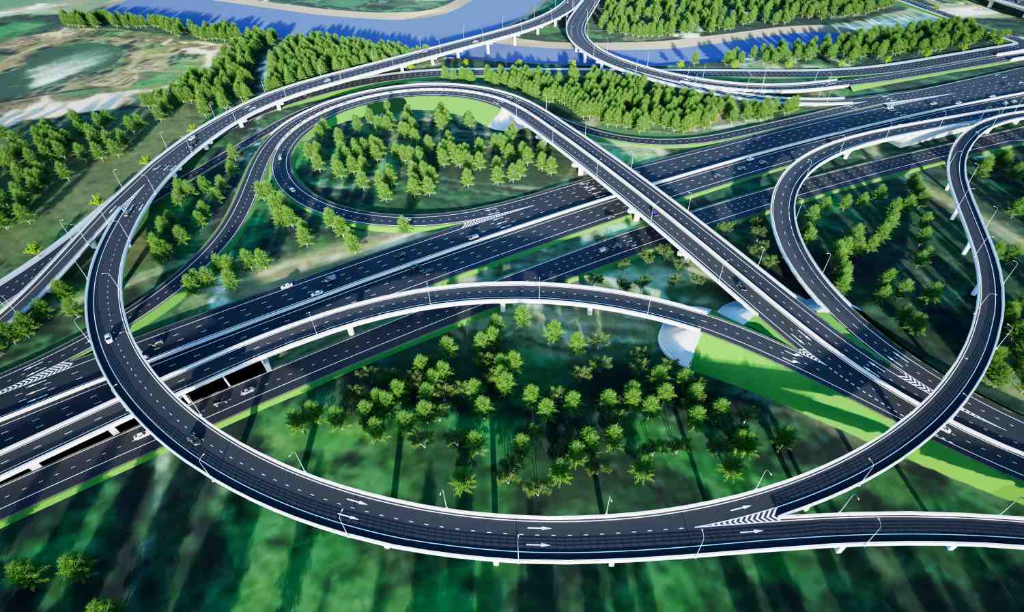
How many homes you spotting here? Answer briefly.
0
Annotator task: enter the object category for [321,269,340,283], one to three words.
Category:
vehicle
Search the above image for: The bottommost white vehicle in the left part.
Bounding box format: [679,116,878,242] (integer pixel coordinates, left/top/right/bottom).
[130,428,149,442]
